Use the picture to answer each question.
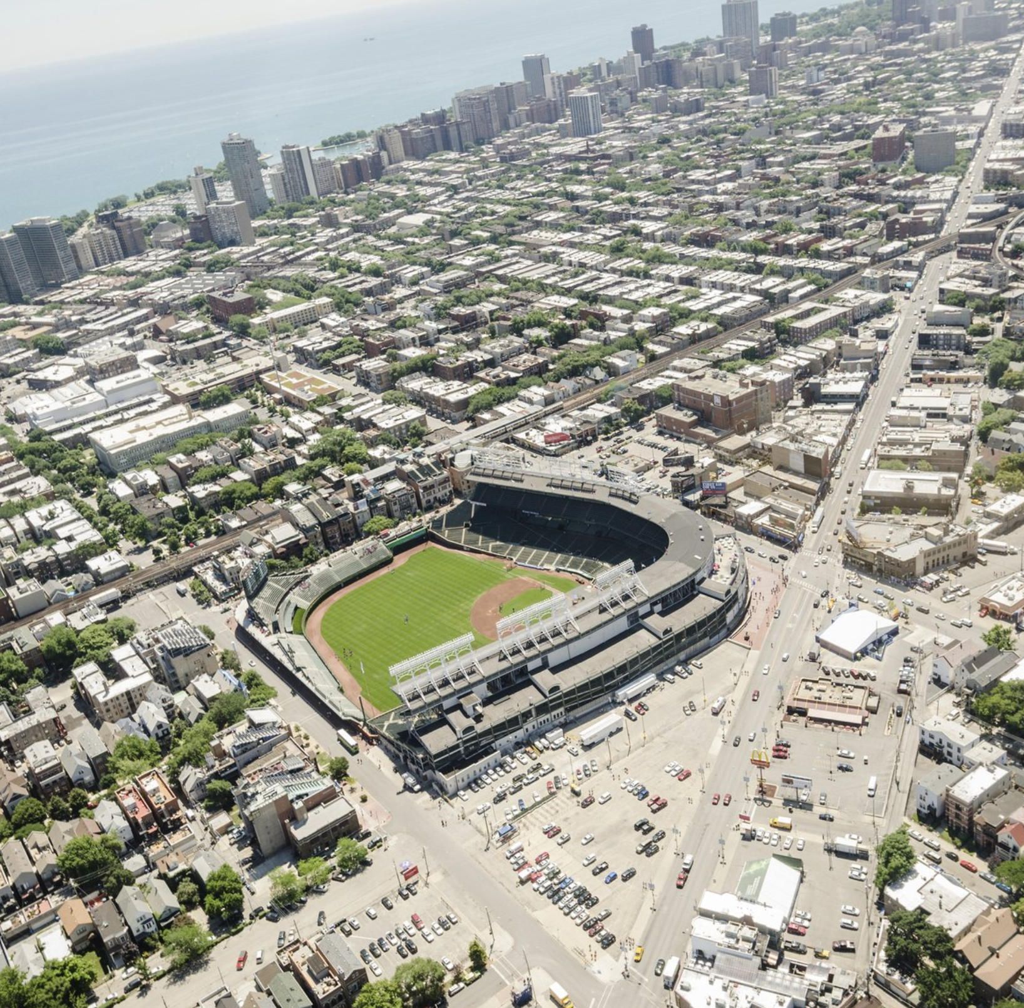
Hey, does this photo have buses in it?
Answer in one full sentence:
Yes, I can see a bus in this picture.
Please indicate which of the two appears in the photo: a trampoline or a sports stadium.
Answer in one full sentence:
The image shows a sports stadium.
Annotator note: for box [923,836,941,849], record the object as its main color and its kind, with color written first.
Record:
white vehicle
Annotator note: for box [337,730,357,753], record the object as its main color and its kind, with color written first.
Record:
white bus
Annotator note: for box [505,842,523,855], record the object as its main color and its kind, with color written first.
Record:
white vehicle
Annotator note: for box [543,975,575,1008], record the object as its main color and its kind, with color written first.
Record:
white bus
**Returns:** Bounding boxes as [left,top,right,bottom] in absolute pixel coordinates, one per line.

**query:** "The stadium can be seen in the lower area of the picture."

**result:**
[233,447,752,798]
